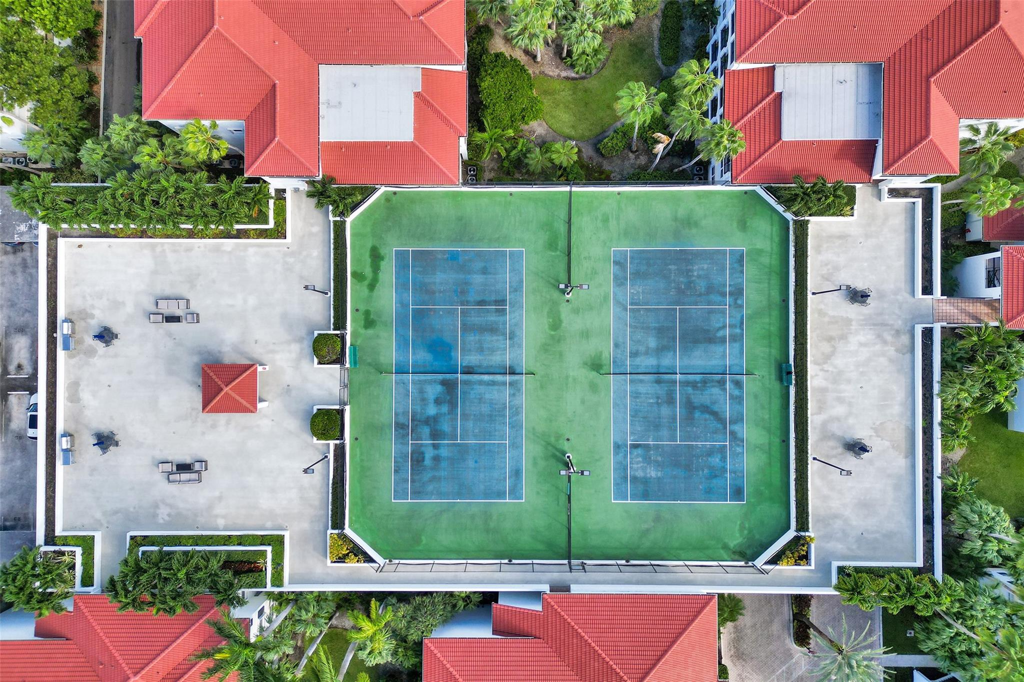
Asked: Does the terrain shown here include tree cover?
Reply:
Yes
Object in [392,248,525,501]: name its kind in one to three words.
tennis court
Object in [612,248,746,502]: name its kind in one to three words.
tennis court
